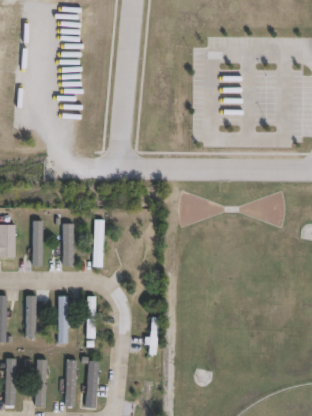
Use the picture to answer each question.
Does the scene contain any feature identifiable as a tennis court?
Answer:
No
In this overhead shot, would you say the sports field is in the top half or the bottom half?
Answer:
bottom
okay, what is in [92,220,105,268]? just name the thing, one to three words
house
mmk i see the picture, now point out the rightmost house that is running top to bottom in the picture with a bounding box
[142,318,158,357]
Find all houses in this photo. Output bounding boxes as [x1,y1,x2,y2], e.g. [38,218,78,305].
[4,360,18,407]
[66,360,78,410]
[92,220,105,268]
[85,362,100,410]
[142,318,158,357]
[32,221,44,266]
[26,296,38,340]
[0,224,18,259]
[86,297,98,340]
[62,224,74,267]
[35,360,48,409]
[58,297,68,345]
